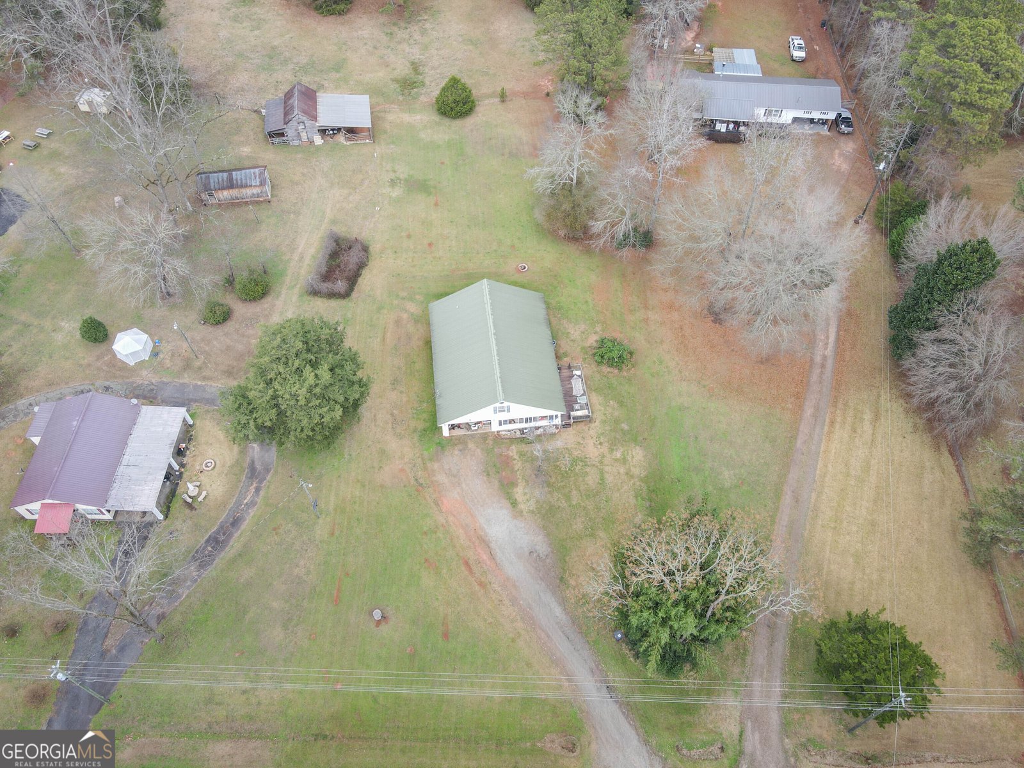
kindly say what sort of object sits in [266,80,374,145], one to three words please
barn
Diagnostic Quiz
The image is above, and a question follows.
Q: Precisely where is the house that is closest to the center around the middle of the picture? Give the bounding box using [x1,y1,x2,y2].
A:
[425,282,565,438]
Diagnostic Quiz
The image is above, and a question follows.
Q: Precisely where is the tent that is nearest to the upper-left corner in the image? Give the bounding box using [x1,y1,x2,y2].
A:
[110,328,156,368]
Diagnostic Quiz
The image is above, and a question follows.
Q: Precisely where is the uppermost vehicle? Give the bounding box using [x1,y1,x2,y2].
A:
[790,32,810,60]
